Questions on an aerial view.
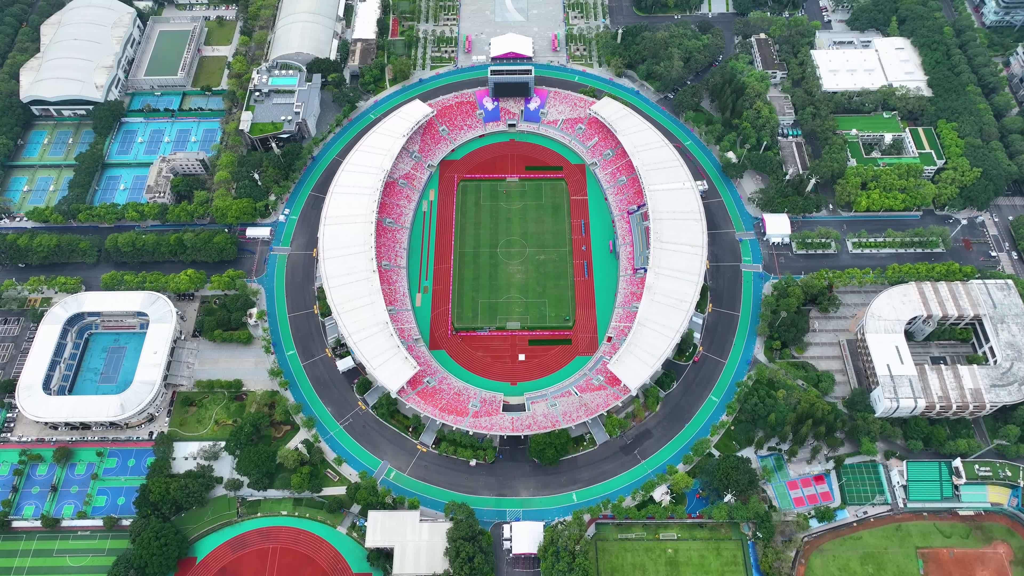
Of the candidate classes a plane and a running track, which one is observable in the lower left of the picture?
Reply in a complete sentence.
It is a running track that can be seen in the lower left of the picture.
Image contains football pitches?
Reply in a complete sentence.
Yes, the frame does contain a football pitch.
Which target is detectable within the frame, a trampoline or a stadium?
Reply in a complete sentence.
I can see a stadium in this picture.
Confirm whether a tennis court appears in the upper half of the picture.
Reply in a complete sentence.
Yes, a tennis court shows up in the upper half of the picture.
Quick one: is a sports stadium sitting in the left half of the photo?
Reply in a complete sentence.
Yes, a sports stadium can be seen in the left half of the photo.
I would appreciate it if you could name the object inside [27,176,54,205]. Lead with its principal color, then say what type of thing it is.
blue tennis court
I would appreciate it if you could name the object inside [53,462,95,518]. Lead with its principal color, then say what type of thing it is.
blue basketball court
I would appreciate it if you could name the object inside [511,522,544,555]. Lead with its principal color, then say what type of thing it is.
white tent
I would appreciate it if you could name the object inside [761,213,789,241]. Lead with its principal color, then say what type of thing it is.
white tent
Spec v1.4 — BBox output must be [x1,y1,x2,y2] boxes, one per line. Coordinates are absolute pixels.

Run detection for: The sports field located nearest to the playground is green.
[597,540,749,576]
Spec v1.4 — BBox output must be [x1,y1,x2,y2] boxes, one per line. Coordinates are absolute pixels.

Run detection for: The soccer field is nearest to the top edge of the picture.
[450,177,577,332]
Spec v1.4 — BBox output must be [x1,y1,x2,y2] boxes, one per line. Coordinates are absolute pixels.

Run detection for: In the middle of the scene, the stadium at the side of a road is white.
[316,83,710,442]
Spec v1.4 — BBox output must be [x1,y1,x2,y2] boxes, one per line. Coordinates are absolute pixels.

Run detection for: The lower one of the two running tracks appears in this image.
[172,517,385,576]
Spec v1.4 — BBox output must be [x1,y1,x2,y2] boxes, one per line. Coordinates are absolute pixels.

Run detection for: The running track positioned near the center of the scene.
[429,138,598,389]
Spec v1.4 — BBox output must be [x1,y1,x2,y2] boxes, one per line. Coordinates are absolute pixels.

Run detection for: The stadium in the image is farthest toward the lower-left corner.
[16,291,182,427]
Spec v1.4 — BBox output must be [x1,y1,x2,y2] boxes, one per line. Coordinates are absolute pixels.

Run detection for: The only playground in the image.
[684,483,724,522]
